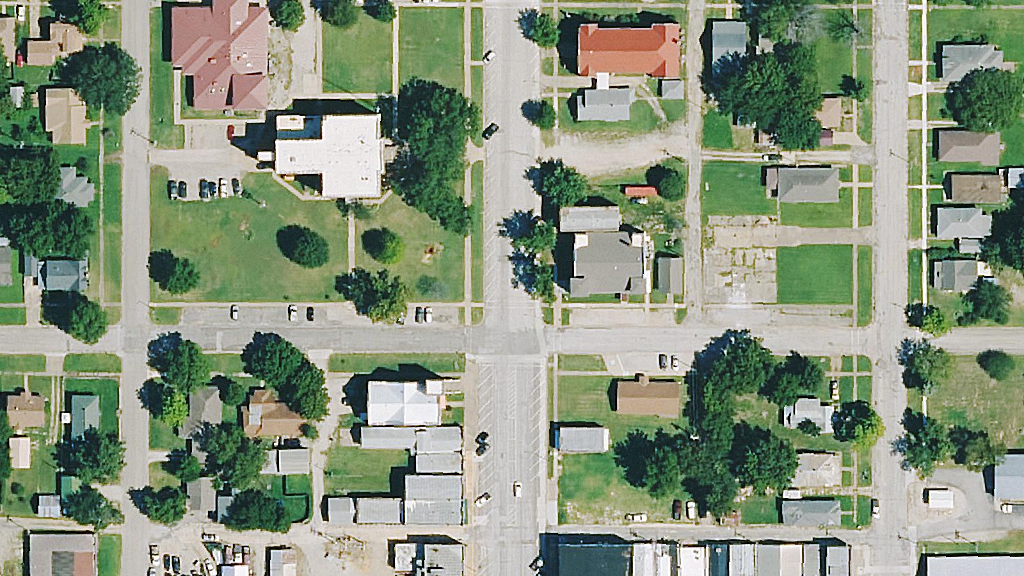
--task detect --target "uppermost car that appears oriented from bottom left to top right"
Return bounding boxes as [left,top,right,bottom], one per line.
[482,49,497,63]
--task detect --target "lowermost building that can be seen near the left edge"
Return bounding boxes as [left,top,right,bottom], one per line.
[29,533,95,576]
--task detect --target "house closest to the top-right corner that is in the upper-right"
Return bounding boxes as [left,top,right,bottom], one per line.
[943,44,1015,80]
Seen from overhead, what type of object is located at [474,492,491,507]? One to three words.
vehicle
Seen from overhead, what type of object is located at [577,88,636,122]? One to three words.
house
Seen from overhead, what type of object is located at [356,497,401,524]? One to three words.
building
